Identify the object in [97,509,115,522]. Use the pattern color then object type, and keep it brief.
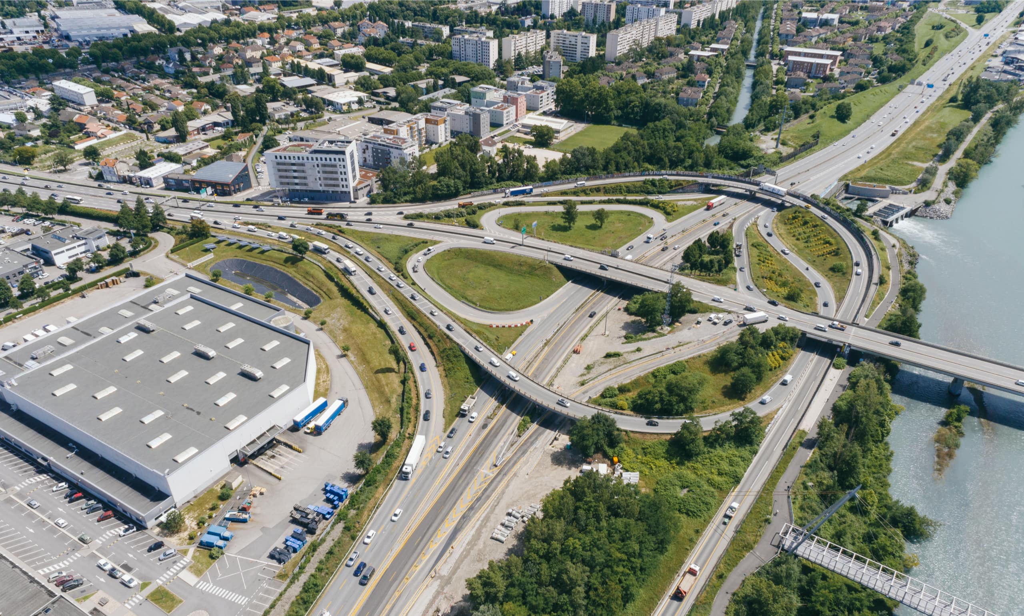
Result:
red vehicle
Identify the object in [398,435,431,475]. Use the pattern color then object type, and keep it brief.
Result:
white truck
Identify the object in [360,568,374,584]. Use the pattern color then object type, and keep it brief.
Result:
gray car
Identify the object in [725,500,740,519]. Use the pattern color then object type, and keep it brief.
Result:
white vehicle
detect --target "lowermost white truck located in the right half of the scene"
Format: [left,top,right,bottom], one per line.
[678,563,701,597]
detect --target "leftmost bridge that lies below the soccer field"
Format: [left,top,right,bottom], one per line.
[458,334,592,422]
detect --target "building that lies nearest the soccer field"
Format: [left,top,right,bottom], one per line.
[522,115,573,140]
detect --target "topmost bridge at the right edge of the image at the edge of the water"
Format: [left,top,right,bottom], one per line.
[788,308,1024,407]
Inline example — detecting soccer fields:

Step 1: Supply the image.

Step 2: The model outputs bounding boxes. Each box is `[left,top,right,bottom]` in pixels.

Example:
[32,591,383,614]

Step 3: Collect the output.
[551,124,630,152]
